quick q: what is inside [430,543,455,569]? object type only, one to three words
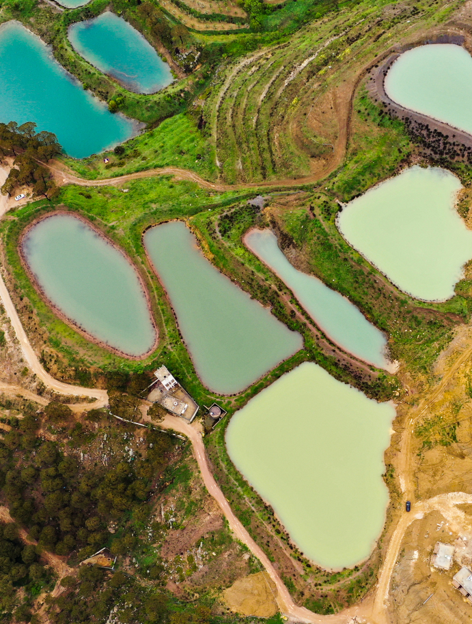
house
